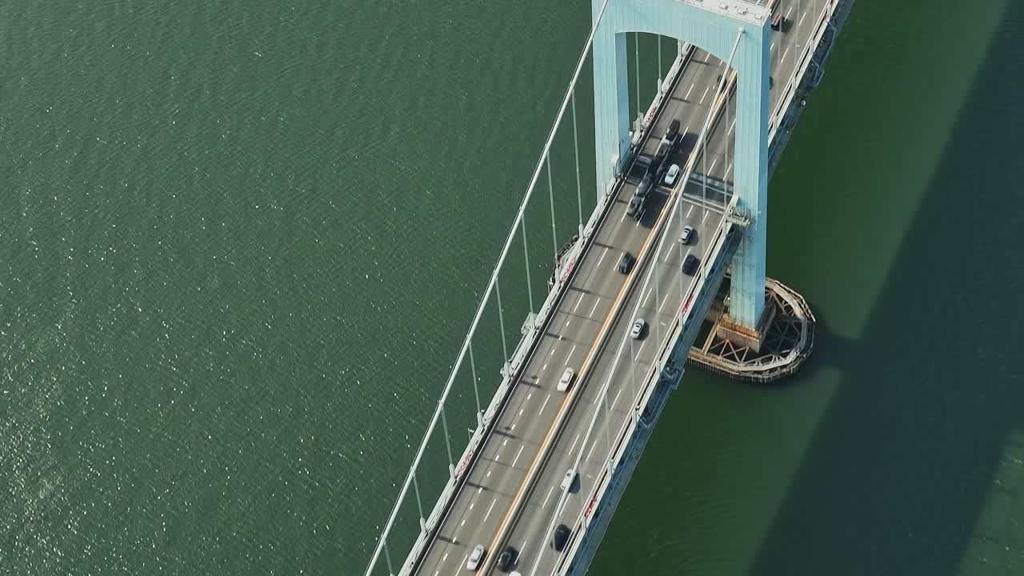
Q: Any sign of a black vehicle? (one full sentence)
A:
Yes, looking at the shot, I can spot a black vehicle.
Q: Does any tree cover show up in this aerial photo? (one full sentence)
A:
No, no tree cover is visible.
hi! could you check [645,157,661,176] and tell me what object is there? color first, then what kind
black car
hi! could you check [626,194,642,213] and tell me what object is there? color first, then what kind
gray car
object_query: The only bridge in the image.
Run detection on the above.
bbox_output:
[363,0,858,576]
